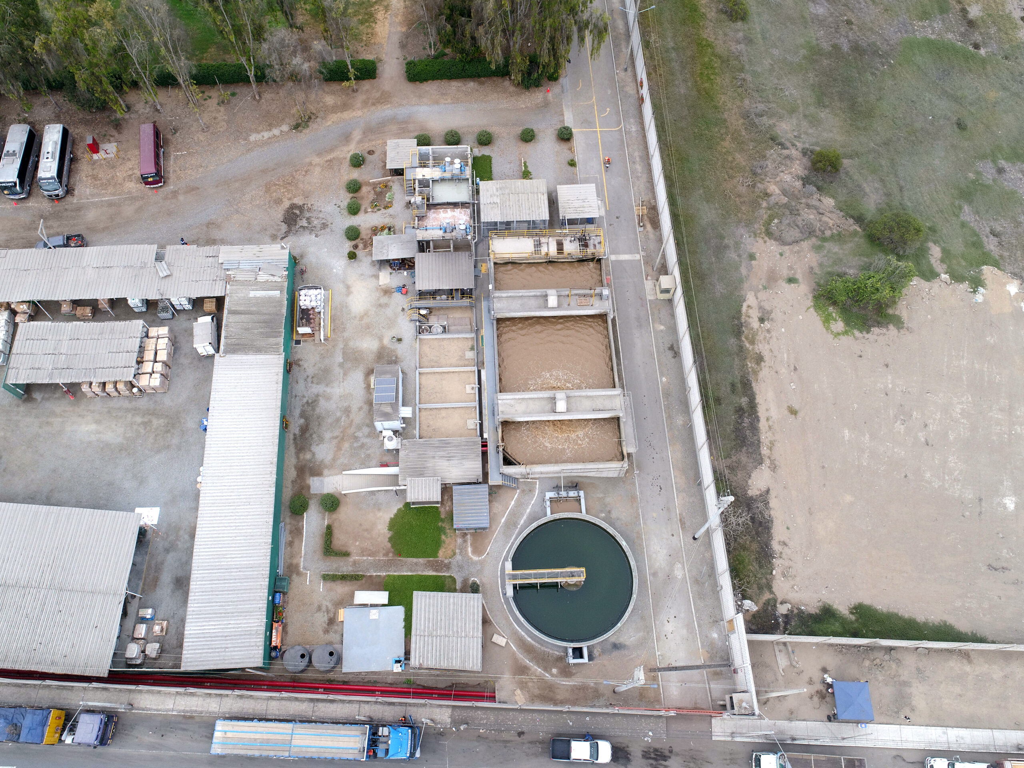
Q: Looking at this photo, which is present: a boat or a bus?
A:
bus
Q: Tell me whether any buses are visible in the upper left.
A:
Yes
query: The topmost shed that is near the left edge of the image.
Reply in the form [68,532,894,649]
[0,244,227,320]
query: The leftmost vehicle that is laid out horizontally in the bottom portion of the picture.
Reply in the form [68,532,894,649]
[0,705,129,751]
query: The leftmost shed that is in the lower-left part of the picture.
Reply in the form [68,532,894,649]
[0,502,157,677]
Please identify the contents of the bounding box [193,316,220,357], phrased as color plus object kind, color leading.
white truck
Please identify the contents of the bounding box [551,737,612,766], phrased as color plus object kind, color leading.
white truck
